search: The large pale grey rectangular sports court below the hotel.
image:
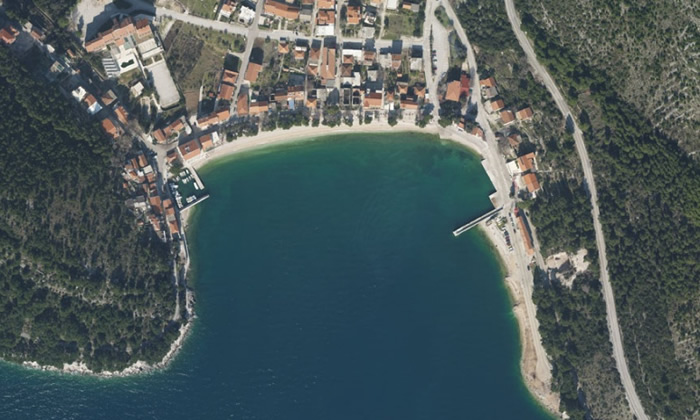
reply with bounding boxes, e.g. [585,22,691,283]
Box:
[147,60,181,107]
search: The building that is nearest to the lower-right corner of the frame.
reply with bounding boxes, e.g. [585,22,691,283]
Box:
[515,213,537,257]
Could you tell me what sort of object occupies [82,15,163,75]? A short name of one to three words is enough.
building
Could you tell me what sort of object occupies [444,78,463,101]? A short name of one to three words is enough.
building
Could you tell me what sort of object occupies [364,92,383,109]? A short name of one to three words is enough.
house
